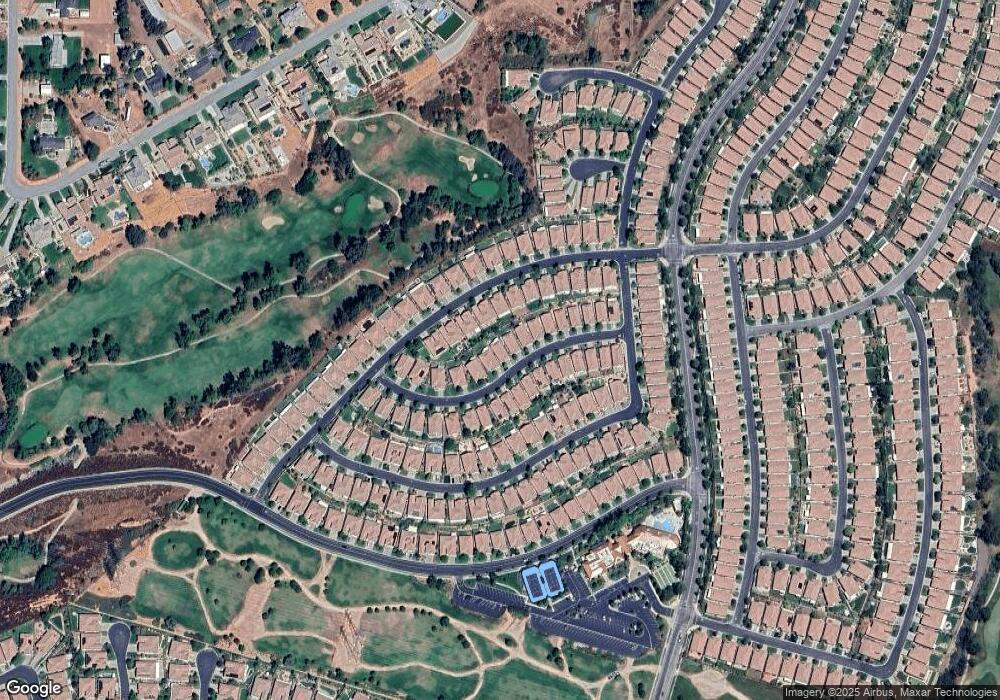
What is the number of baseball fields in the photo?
0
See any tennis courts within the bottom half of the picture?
Yes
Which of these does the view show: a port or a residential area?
residential area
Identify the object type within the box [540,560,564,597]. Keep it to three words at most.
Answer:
tennis court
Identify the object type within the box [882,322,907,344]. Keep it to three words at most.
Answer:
house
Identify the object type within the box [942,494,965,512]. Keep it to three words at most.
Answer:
house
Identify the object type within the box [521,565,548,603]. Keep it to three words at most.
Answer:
tennis court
